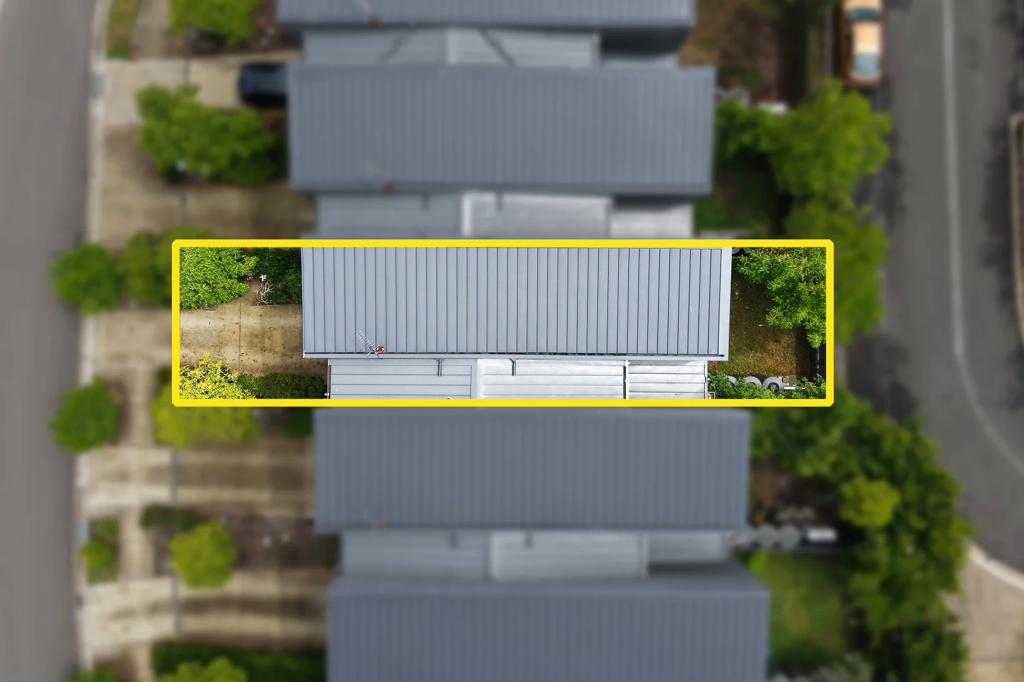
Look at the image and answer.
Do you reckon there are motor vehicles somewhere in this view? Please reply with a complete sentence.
Yes, there's a motor vehicle down there.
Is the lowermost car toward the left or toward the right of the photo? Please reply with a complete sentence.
You can find the lowermost car on the left side of the picture.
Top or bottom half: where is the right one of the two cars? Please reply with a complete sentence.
The right one of the two cars is in the top half of the image.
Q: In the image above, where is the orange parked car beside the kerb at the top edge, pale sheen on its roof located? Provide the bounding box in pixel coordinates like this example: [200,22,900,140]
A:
[833,0,883,86]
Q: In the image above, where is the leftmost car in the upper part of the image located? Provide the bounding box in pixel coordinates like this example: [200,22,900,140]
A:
[241,62,292,109]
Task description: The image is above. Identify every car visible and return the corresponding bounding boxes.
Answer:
[833,0,883,86]
[241,62,292,109]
